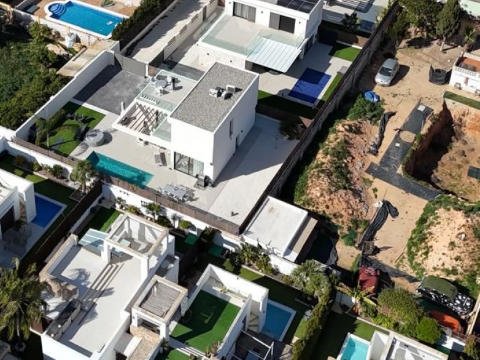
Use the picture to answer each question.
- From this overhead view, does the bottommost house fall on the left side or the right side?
right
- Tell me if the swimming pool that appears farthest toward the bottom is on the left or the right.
right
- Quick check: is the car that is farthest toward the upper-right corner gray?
Yes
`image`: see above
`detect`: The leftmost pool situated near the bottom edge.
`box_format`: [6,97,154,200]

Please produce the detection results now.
[265,300,298,344]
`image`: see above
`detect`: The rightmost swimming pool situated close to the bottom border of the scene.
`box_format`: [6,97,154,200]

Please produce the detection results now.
[334,330,376,360]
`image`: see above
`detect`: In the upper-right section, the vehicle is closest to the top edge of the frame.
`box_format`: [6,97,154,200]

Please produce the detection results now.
[374,55,399,85]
